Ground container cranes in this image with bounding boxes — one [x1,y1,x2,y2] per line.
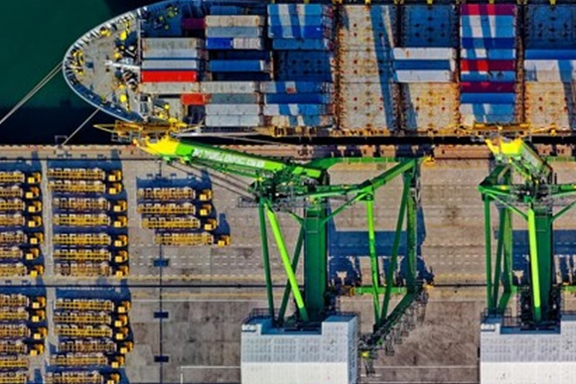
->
[97,118,444,384]
[451,118,576,384]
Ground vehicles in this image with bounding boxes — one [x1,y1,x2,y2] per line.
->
[54,250,132,263]
[138,205,215,217]
[138,189,215,202]
[55,326,133,340]
[49,182,126,195]
[53,234,132,248]
[46,373,123,384]
[54,265,133,278]
[50,354,128,370]
[0,173,45,185]
[0,310,49,324]
[0,215,46,227]
[143,218,220,231]
[0,296,50,310]
[156,234,233,246]
[53,215,130,228]
[0,201,46,213]
[54,314,132,328]
[0,188,44,201]
[0,341,48,356]
[0,248,44,261]
[56,299,134,313]
[48,169,125,181]
[0,232,47,245]
[59,341,137,356]
[53,199,130,212]
[0,266,47,279]
[0,326,51,340]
